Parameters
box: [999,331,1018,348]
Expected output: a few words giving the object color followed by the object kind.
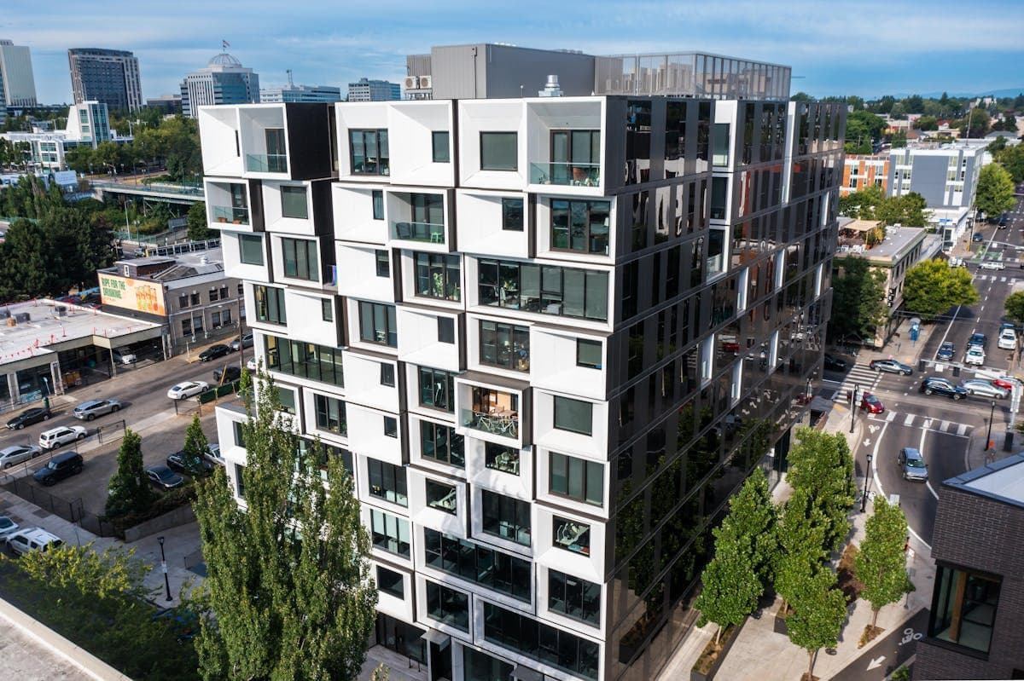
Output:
white vehicle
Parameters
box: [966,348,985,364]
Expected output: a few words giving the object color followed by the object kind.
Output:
white car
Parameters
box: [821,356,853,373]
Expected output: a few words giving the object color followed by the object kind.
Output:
black car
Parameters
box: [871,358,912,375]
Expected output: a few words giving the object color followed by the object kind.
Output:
gray car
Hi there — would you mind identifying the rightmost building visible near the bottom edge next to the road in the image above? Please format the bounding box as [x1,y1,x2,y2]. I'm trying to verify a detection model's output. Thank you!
[916,450,1024,681]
